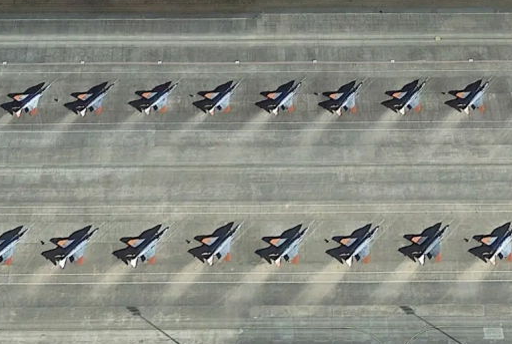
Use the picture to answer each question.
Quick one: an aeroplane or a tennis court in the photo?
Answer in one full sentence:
There is an aeroplane in the scene.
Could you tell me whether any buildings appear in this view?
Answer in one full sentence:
No, the scene contains no building.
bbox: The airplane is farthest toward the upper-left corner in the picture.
[7,84,49,120]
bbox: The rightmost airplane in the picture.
[481,230,512,267]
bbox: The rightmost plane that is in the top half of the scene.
[455,81,490,116]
